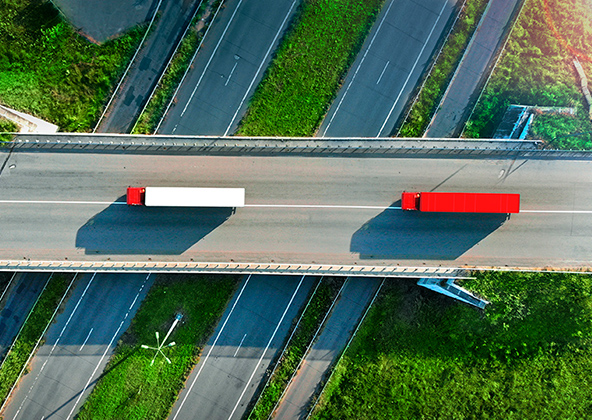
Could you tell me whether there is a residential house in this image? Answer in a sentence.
No, this view has no residential house in it.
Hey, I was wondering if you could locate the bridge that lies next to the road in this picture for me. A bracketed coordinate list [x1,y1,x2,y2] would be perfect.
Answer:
[0,101,576,311]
